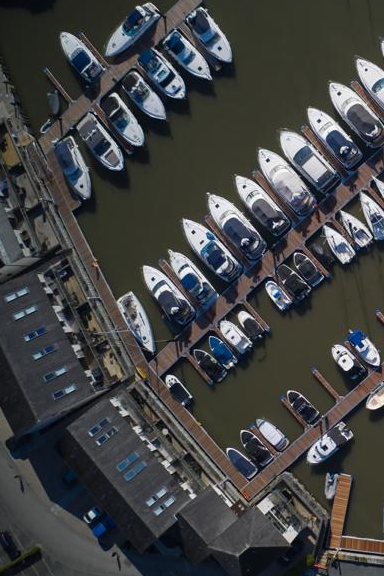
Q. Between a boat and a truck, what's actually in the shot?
boat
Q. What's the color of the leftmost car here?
black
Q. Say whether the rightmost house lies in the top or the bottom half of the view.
bottom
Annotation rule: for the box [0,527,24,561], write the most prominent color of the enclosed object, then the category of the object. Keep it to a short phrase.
black car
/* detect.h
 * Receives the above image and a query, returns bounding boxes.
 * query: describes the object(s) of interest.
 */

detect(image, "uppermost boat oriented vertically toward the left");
[50,89,62,116]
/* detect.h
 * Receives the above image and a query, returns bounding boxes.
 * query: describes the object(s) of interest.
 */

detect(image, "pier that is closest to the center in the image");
[159,258,202,310]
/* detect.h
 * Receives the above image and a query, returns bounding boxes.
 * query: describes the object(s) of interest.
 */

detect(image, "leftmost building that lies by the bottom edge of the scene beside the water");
[59,386,210,557]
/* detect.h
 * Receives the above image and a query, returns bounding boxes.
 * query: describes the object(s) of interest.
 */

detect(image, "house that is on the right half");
[162,475,304,576]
